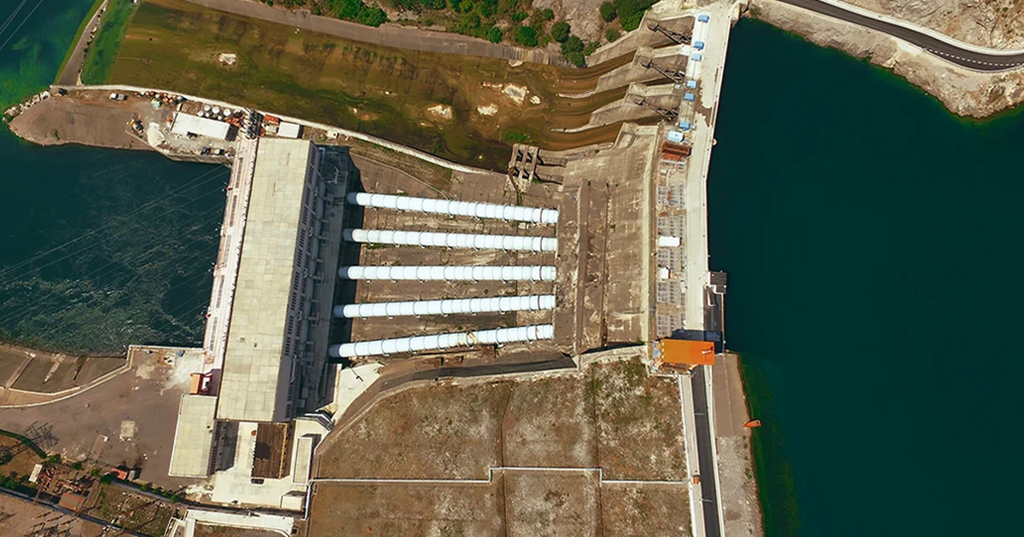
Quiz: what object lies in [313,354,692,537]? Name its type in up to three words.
dam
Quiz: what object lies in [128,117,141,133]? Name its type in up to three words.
vehicle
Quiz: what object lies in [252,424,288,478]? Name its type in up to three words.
building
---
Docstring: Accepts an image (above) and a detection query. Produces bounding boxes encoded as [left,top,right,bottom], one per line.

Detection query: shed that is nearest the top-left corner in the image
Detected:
[172,113,234,142]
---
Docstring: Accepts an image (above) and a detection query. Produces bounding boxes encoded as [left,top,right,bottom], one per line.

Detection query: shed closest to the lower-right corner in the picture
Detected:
[708,271,728,295]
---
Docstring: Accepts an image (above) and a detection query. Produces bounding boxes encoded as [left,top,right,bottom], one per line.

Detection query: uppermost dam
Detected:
[553,0,738,351]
